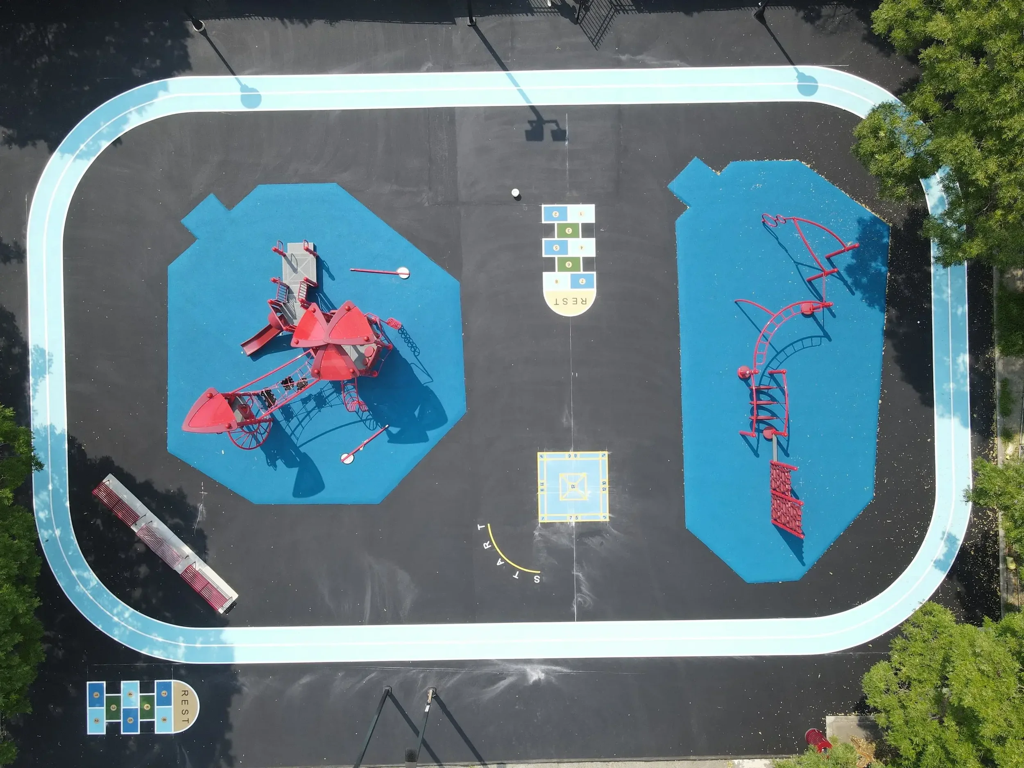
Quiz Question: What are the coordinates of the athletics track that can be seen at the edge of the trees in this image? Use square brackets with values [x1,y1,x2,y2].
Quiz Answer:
[27,66,973,664]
